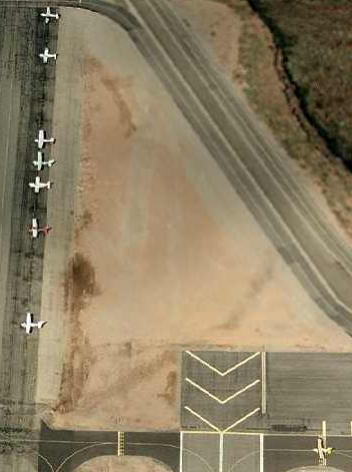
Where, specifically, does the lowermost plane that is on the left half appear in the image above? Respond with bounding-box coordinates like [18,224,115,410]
[21,311,45,333]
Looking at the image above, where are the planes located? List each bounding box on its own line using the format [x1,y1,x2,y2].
[30,178,51,194]
[34,129,55,147]
[33,151,54,169]
[312,436,334,463]
[28,218,50,236]
[39,48,60,63]
[41,7,61,22]
[21,311,45,333]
